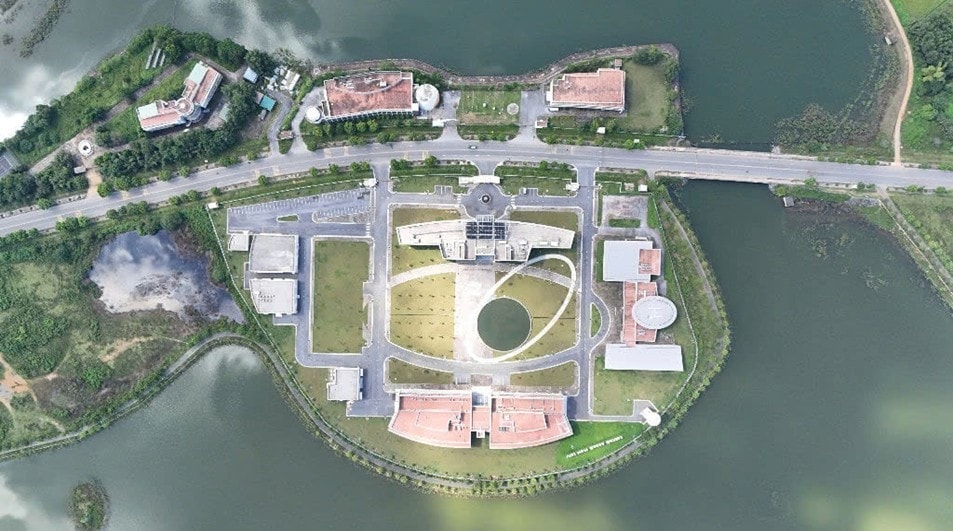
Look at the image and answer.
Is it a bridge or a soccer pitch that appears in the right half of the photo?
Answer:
bridge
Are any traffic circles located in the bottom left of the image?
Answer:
No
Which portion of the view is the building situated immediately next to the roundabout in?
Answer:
center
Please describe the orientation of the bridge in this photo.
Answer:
from side to side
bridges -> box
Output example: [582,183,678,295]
[690,146,772,184]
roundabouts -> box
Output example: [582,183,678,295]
[467,182,504,216]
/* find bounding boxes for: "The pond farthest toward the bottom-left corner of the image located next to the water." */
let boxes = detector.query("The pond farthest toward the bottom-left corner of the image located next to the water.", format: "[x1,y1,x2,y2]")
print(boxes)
[90,228,247,324]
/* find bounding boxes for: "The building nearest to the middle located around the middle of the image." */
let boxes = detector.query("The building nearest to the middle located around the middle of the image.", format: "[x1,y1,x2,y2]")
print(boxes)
[396,215,575,261]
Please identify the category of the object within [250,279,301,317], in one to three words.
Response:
building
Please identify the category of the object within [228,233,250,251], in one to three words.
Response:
building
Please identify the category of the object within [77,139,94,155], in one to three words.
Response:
fountain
